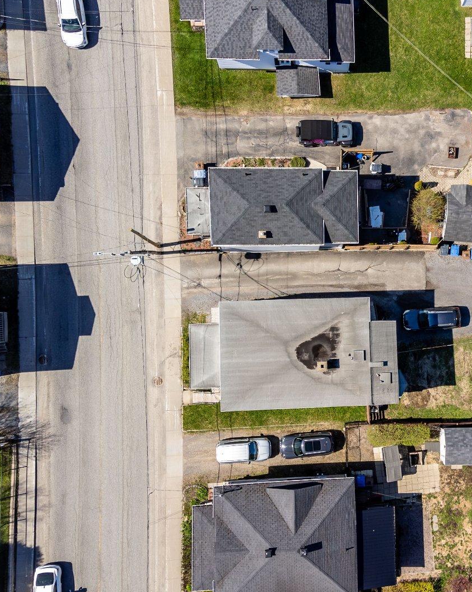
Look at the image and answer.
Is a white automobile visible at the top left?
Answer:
Yes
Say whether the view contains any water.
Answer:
No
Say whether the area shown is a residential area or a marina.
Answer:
residential area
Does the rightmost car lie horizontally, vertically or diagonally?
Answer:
horizontally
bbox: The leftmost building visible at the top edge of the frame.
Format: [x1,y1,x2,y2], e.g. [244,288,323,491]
[178,0,356,104]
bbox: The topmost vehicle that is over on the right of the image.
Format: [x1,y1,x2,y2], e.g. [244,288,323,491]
[298,118,353,146]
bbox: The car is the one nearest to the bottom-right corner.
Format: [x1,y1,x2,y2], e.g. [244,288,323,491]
[278,430,336,459]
